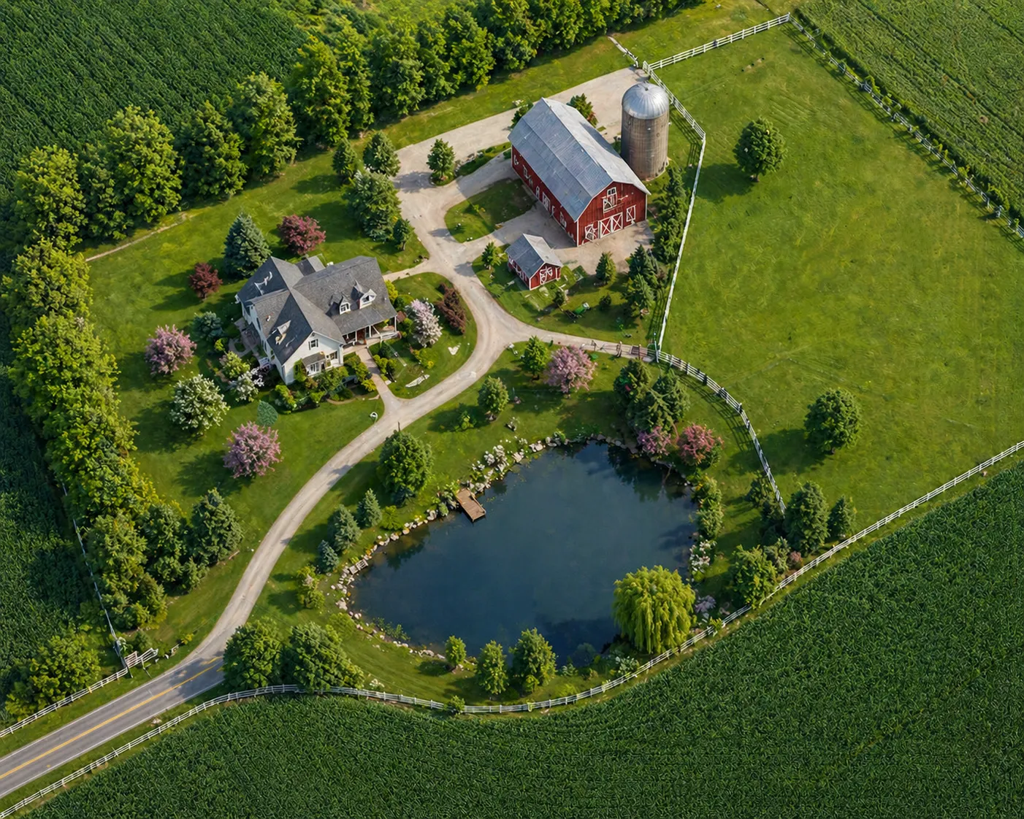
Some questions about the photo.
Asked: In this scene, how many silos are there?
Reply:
1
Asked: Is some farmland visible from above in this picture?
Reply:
Yes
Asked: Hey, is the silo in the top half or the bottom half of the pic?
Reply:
top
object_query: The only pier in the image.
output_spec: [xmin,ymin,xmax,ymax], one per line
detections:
[455,489,486,524]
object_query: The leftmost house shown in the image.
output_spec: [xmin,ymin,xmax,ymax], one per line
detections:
[240,253,400,385]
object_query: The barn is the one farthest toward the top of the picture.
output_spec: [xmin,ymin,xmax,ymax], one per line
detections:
[502,104,656,246]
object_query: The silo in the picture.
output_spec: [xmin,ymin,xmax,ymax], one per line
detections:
[621,87,672,181]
